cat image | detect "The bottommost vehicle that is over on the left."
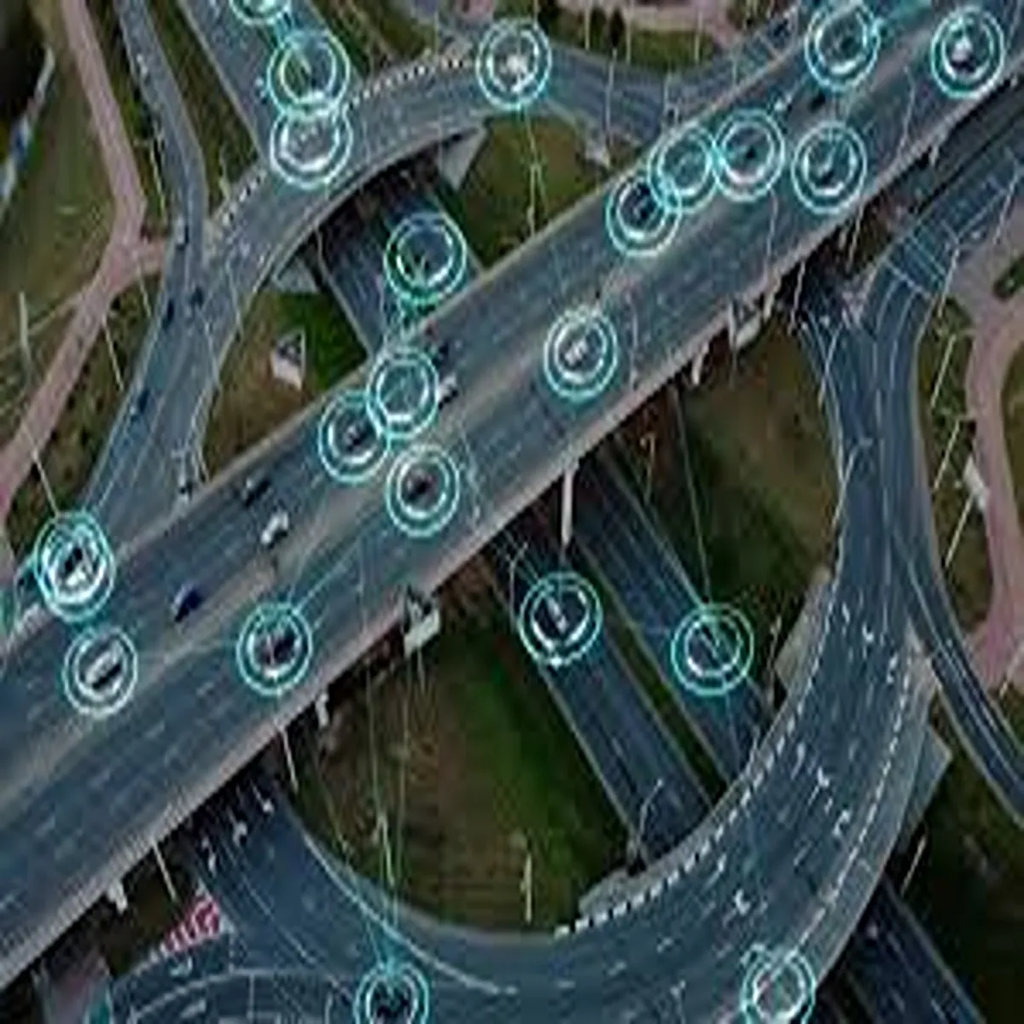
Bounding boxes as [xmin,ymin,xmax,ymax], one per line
[368,980,417,1016]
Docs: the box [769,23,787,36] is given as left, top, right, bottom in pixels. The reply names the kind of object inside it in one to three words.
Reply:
vehicle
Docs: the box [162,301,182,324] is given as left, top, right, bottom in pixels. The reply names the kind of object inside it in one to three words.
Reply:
car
